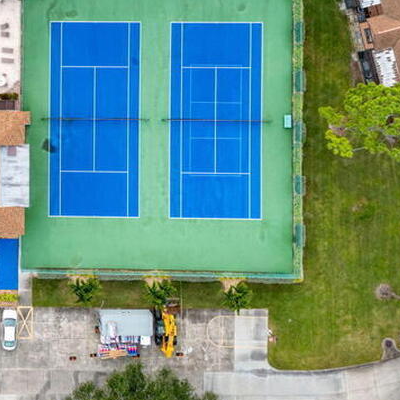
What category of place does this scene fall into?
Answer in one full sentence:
The picture captures a sports ground.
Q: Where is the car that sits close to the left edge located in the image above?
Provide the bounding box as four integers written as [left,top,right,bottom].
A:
[1,308,19,350]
